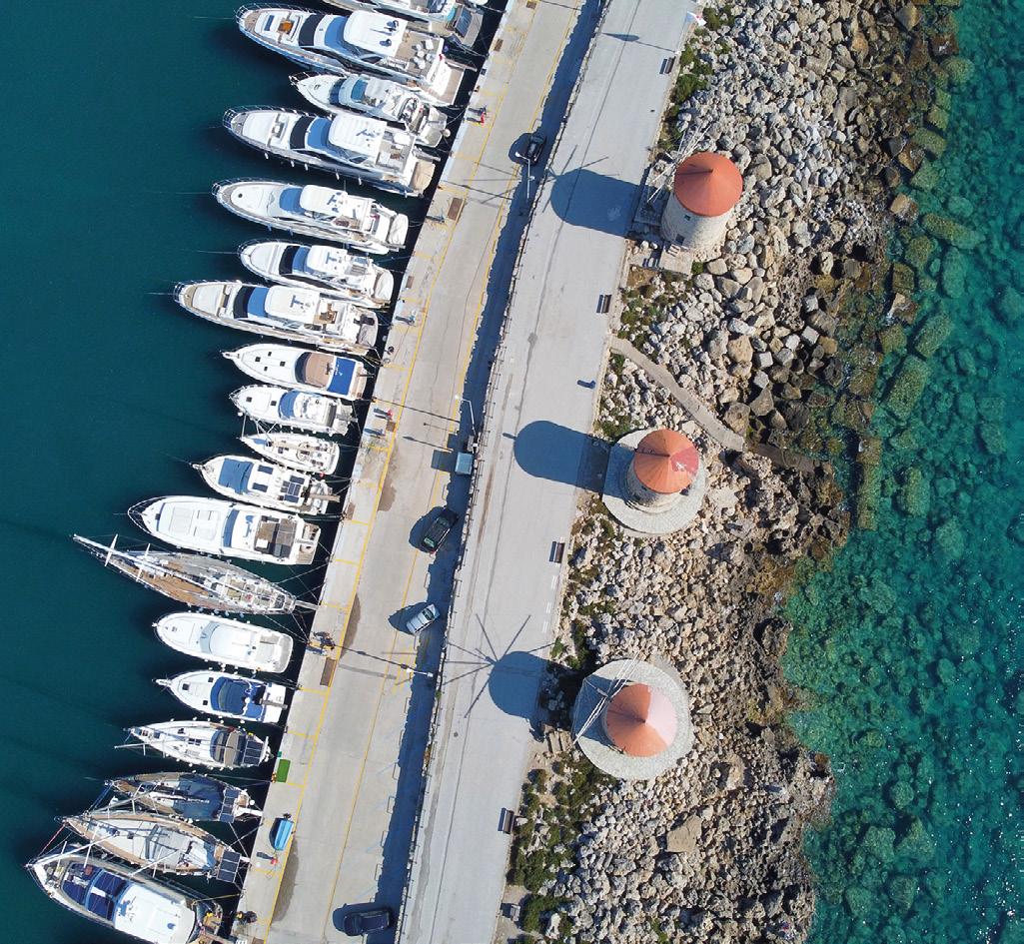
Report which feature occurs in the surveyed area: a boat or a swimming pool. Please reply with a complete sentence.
Of the two, only a boat appears.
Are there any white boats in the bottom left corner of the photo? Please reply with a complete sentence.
Yes, there is a white boat in the bottom left corner of the photo.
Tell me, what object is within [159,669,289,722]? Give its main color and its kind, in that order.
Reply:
white boat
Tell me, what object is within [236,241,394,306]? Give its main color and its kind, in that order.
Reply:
white boat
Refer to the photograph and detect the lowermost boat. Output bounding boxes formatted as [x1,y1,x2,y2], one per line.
[18,860,227,944]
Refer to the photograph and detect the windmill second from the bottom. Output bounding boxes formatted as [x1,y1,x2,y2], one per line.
[617,430,700,517]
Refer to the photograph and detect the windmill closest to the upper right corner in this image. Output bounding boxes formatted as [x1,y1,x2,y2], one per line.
[650,120,744,253]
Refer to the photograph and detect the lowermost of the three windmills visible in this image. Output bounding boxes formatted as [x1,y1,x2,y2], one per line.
[577,649,679,759]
